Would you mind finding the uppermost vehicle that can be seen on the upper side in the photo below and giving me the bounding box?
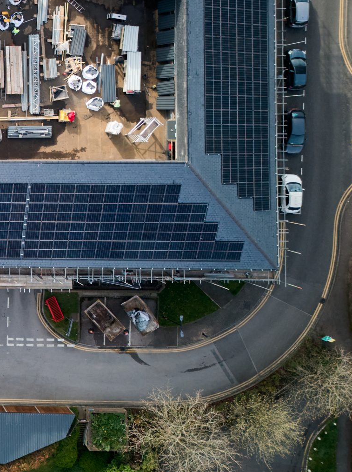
[285,0,310,29]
